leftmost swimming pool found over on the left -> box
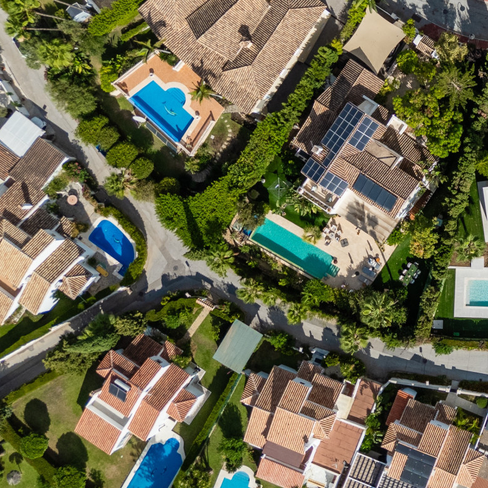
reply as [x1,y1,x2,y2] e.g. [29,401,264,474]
[87,218,138,276]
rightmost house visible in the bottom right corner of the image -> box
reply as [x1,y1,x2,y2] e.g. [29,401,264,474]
[343,389,488,488]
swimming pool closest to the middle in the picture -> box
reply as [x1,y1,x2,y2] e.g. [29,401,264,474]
[250,216,342,279]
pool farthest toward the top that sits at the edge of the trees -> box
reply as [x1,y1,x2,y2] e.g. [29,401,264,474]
[127,76,196,146]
